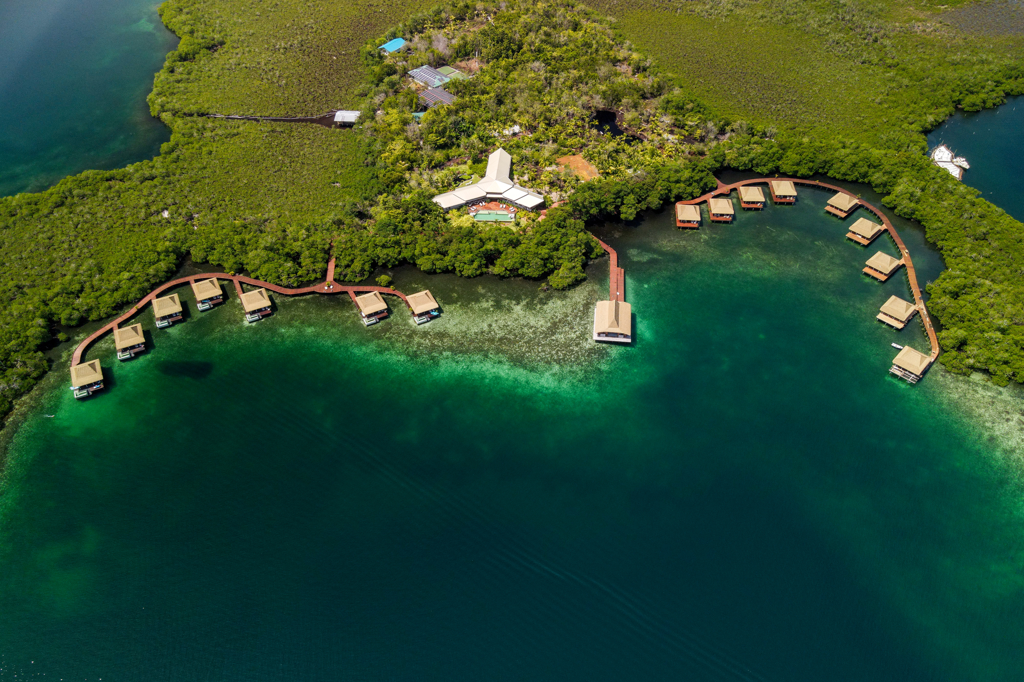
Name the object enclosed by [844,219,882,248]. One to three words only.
shed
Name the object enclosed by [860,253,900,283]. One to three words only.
shed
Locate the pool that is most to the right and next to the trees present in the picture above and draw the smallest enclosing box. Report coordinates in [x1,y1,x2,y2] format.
[475,210,516,222]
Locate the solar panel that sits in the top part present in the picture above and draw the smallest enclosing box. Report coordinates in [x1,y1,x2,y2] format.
[409,65,449,86]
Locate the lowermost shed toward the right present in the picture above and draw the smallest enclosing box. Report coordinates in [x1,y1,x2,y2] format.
[884,346,932,387]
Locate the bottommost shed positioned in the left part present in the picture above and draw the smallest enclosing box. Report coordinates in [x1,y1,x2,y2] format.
[71,359,108,396]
